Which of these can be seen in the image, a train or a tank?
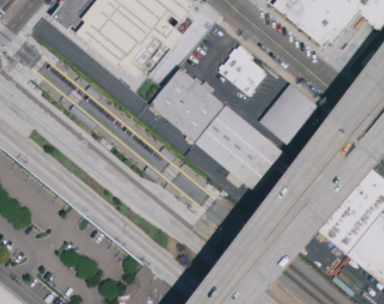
train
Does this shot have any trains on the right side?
No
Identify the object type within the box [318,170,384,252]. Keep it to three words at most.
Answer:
building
